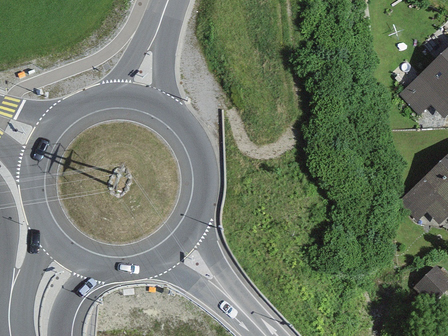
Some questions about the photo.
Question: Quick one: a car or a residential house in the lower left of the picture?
car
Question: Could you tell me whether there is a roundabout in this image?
Yes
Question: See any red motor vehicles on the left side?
No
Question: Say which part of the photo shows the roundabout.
left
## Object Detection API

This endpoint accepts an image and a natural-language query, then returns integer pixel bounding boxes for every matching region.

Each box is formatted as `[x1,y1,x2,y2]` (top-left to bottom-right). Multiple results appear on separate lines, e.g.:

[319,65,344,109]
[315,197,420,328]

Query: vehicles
[32,138,48,162]
[28,230,40,254]
[218,299,238,320]
[78,277,98,298]
[118,264,140,274]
